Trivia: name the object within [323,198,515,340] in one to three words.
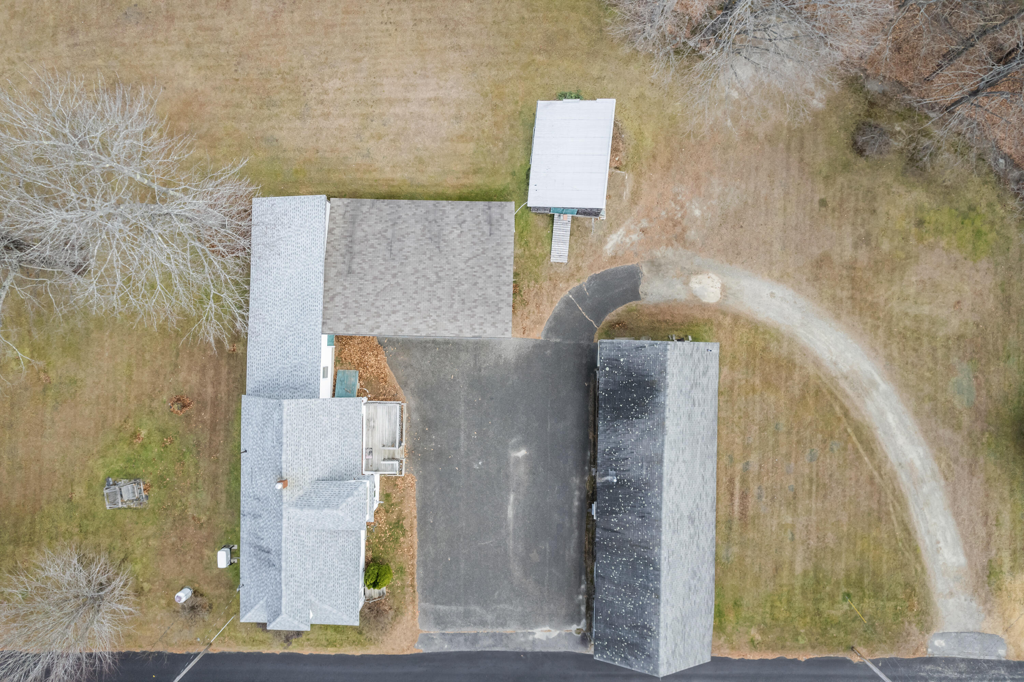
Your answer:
building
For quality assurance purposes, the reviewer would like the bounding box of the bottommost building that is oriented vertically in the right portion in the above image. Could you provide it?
[590,340,719,678]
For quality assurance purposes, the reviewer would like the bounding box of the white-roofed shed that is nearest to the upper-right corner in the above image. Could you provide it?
[528,98,615,219]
